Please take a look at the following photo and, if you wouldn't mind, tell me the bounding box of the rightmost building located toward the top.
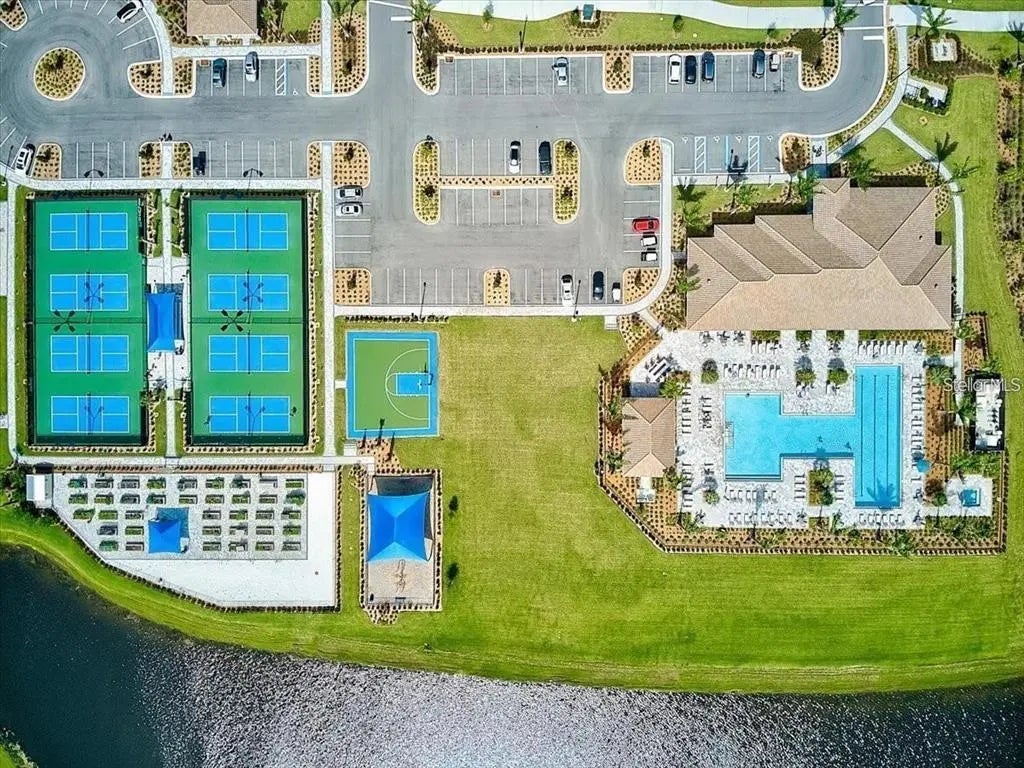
[686,178,952,330]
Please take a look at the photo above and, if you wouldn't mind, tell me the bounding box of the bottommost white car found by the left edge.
[13,144,37,172]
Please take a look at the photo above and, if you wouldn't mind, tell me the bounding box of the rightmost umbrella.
[912,458,929,472]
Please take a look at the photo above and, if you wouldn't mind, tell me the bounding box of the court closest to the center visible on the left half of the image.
[345,331,439,439]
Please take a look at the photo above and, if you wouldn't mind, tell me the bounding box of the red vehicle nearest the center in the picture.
[631,220,659,232]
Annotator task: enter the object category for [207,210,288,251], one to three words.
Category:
sports court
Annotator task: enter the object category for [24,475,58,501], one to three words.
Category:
shed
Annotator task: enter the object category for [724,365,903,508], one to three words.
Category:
swimming pool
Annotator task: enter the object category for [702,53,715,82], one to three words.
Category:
vehicle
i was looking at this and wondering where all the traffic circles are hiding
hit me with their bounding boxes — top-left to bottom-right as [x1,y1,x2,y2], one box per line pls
[33,46,85,100]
